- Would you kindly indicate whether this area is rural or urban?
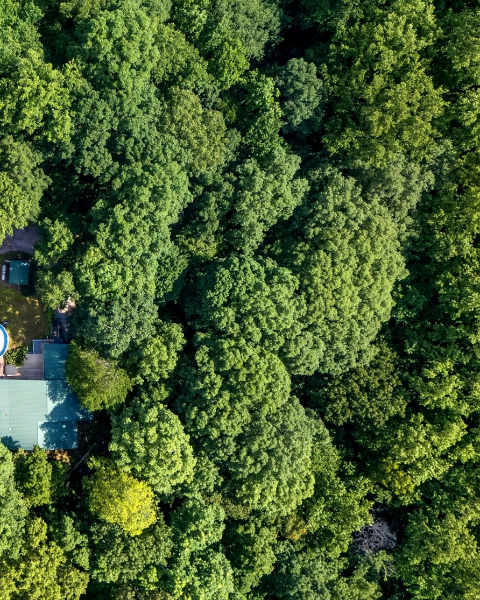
rural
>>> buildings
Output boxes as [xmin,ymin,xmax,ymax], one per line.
[0,344,93,450]
[8,260,29,284]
